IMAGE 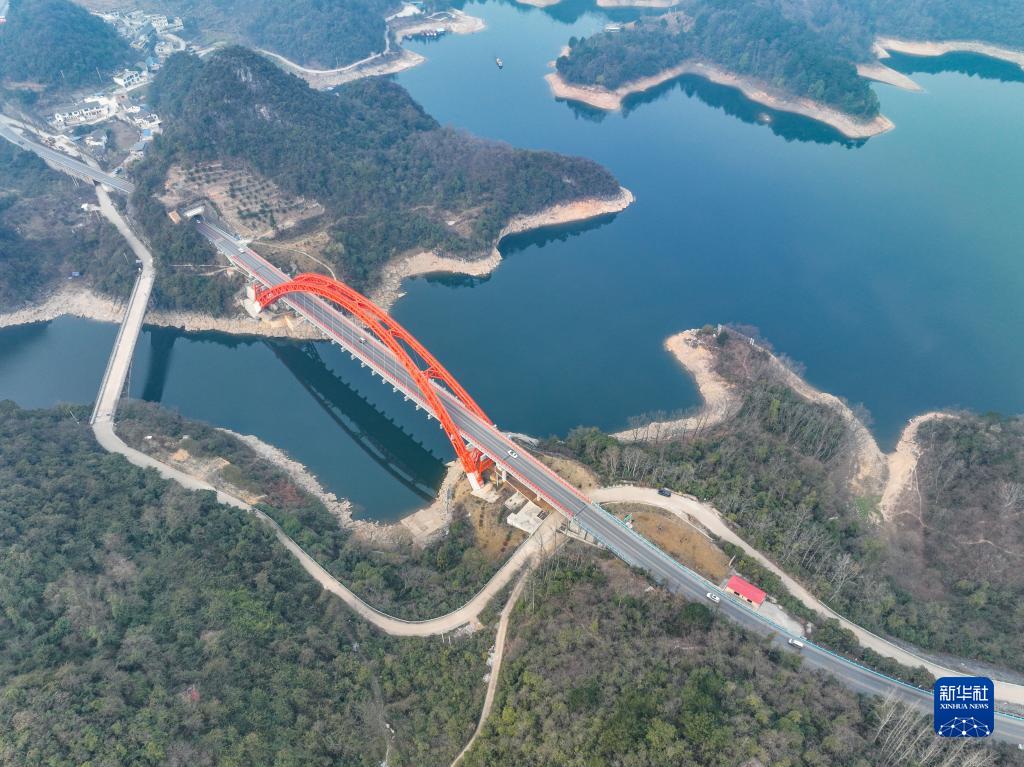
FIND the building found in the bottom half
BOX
[725,572,769,609]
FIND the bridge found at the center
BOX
[204,226,676,583]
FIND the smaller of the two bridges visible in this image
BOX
[90,285,151,422]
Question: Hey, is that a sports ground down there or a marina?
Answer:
marina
